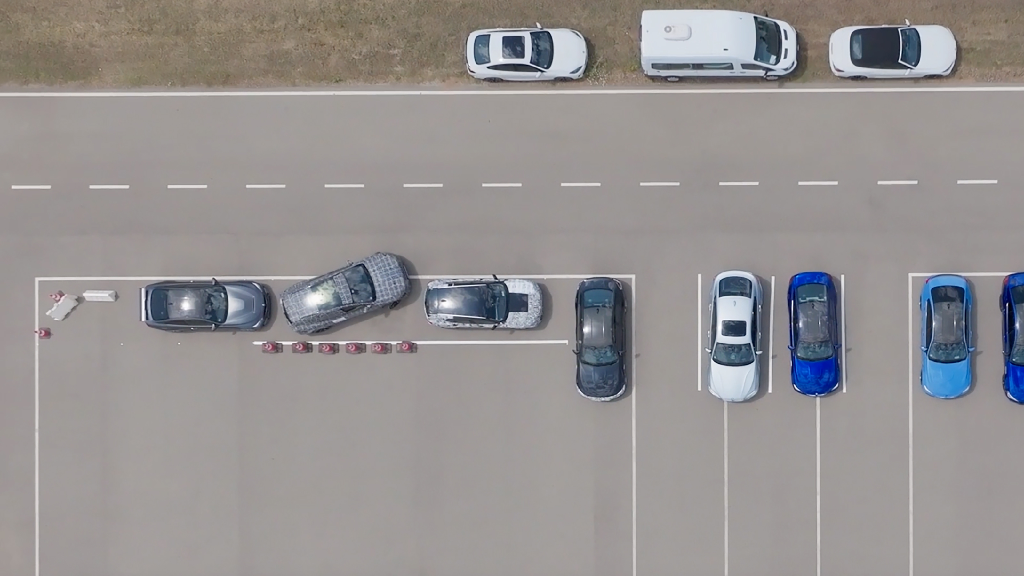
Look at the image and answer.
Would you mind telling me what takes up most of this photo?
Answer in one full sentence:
Most of the picture is covered by paved ground.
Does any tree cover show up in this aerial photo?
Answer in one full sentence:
No, no tree cover is visible.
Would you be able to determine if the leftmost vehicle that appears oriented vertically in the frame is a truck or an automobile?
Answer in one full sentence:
What you see as the leftmost vehicle that appears oriented vertically is an automobile.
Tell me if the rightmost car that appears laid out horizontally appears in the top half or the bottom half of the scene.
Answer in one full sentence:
Seen from above, the rightmost car that appears laid out horizontally lies in the top half of the view.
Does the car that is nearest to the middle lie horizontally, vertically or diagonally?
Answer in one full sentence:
What the image shows is the car that is nearest to the middle lying horizontally.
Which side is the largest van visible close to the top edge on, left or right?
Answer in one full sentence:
The largest van visible close to the top edge sits on the right side.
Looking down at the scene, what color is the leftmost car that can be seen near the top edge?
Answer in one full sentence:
The color of the leftmost car that can be seen near the top edge is white.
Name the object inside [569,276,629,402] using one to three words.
car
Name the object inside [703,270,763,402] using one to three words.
car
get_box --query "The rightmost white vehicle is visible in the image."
[829,18,956,80]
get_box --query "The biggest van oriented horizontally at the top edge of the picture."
[639,9,798,78]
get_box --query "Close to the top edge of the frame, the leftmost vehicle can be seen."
[465,20,589,83]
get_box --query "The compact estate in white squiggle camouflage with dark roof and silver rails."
[423,272,544,333]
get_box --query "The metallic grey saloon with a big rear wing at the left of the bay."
[139,275,274,335]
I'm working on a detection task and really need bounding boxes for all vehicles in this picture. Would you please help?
[639,9,798,78]
[139,275,274,335]
[703,270,763,402]
[423,272,544,333]
[785,271,845,397]
[465,20,589,83]
[569,276,629,402]
[918,274,978,400]
[1000,272,1024,404]
[829,18,956,80]
[279,252,413,335]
